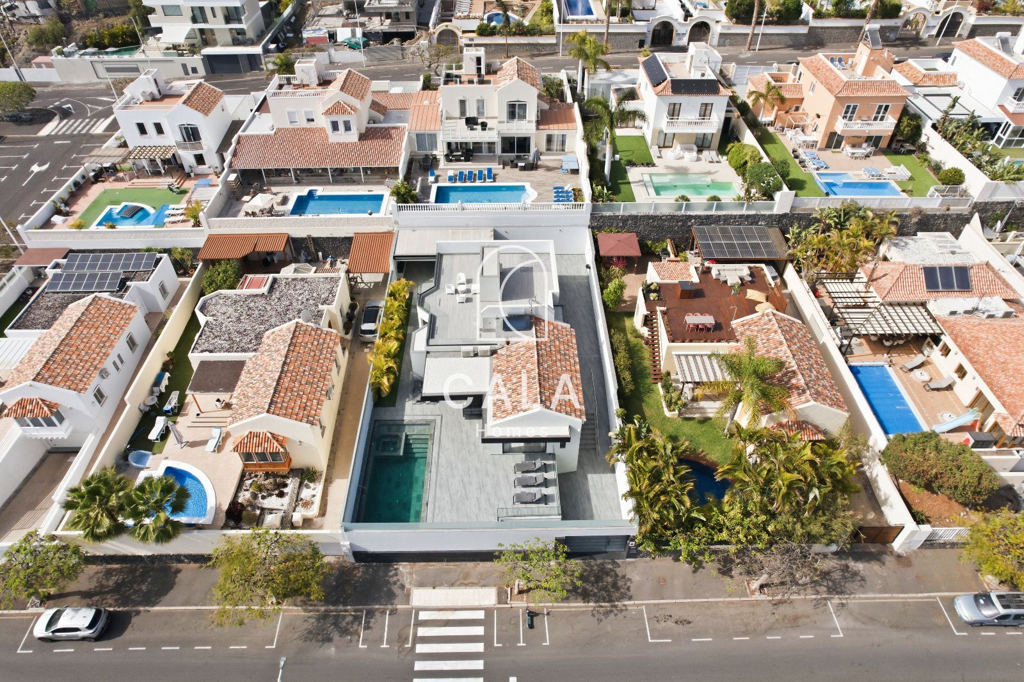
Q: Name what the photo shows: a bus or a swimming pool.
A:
swimming pool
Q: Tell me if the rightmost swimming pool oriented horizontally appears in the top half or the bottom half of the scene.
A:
top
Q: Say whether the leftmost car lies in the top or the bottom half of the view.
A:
bottom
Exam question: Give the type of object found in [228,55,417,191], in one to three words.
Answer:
house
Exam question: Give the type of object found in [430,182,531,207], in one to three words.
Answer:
swimming pool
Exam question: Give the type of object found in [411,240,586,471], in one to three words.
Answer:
house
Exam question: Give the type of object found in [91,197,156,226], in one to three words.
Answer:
swimming pool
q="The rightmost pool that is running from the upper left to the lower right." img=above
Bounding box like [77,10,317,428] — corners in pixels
[845,358,933,440]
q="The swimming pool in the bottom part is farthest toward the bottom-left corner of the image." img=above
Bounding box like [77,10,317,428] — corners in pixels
[140,459,217,525]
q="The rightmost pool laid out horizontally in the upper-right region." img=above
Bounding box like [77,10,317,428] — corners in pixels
[811,171,906,198]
